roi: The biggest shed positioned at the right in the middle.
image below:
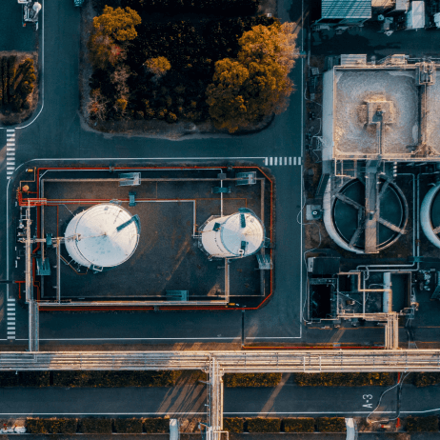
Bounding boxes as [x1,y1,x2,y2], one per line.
[308,257,341,275]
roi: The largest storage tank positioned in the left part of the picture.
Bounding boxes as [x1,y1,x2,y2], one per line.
[63,202,142,272]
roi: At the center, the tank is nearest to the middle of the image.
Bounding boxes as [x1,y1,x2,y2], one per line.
[200,205,266,262]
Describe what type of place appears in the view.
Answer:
industrial area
